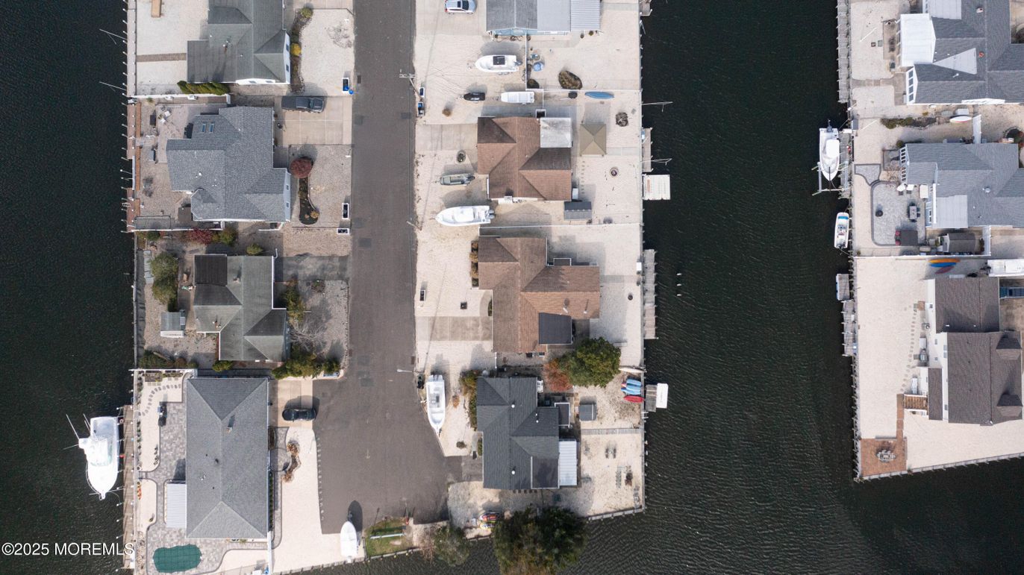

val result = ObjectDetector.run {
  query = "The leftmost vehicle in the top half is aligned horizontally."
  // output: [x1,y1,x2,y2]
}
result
[281,95,326,114]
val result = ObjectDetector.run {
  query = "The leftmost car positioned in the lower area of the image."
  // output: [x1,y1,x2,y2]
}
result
[284,406,317,422]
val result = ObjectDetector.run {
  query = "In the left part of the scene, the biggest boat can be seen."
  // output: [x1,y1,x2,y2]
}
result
[66,415,121,503]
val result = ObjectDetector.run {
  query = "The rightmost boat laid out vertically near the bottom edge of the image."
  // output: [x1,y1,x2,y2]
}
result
[341,521,358,564]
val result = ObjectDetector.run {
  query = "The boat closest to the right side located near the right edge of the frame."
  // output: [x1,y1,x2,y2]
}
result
[982,257,1024,277]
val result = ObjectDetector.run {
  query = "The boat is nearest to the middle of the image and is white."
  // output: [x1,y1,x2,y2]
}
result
[435,205,495,227]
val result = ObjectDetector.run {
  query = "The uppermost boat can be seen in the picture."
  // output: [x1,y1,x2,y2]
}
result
[474,56,524,75]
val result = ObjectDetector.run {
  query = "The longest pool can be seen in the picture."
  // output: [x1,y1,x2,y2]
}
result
[151,544,203,574]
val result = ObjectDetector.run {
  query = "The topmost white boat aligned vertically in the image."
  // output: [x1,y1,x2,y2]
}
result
[818,121,840,193]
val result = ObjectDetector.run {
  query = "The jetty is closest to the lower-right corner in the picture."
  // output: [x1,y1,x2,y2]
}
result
[839,300,854,356]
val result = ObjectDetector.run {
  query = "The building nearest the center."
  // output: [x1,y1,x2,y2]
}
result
[478,236,601,353]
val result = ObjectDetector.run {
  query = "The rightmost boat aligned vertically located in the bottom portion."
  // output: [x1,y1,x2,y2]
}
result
[426,376,446,439]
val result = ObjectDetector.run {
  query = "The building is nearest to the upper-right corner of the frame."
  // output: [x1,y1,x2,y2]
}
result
[889,0,1024,107]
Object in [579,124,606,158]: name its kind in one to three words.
gazebo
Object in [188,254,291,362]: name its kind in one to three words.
house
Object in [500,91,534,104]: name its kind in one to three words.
boat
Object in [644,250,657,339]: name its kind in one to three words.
pier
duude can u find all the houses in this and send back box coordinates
[896,141,1024,229]
[478,236,601,353]
[477,114,572,203]
[476,377,577,493]
[187,0,291,85]
[165,377,272,539]
[487,0,600,38]
[918,278,1024,431]
[889,0,1024,107]
[188,254,291,362]
[166,106,292,222]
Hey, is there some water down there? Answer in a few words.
Yes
